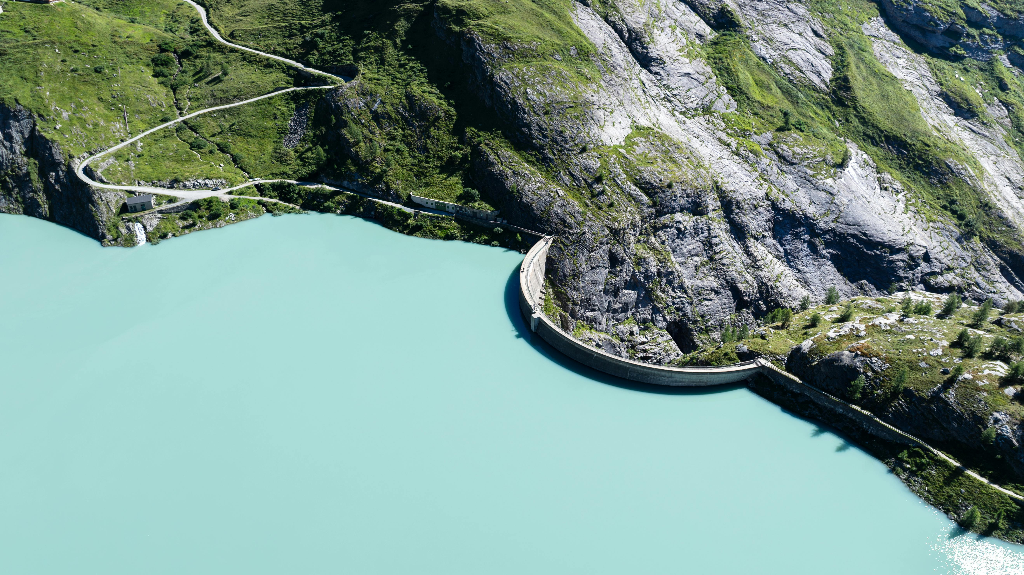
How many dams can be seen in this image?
one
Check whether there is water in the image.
Yes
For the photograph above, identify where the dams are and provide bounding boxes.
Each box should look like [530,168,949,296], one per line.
[515,233,772,391]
